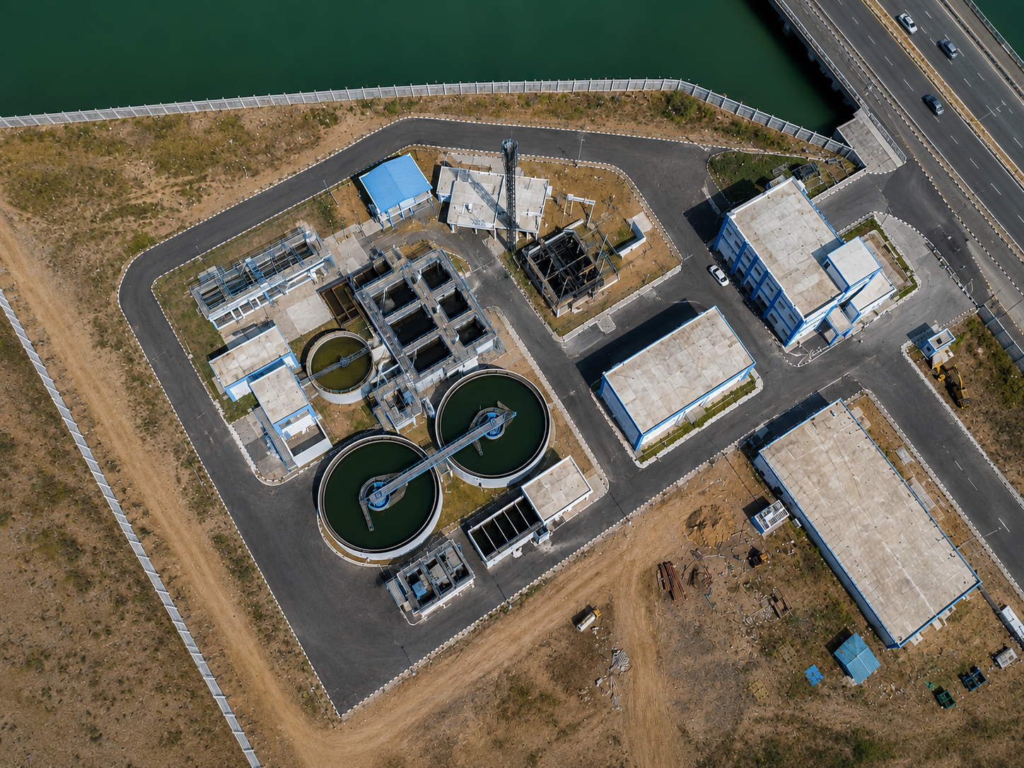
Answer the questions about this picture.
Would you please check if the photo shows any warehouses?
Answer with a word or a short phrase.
Yes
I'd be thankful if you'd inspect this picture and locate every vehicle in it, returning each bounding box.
[747,549,772,569]
[924,91,946,113]
[899,11,919,32]
[573,604,604,633]
[707,261,730,286]
[940,35,960,57]
[945,365,980,410]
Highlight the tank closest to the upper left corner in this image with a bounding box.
[305,332,377,401]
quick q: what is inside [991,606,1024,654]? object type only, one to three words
trailer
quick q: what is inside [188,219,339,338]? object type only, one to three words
house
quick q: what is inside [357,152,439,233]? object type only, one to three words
shed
